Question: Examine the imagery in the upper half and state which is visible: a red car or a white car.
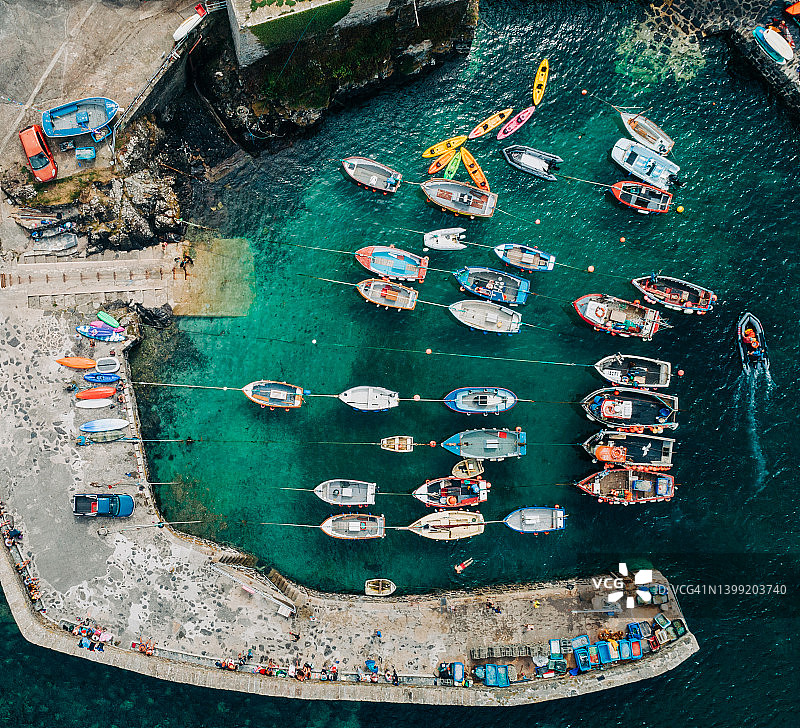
red car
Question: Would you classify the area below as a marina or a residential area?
marina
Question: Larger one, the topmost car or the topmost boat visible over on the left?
the car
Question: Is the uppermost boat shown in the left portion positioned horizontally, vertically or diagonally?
diagonally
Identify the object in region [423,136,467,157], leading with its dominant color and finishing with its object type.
yellow boat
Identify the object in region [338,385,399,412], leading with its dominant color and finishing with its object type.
white boat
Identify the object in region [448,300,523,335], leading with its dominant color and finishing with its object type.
white boat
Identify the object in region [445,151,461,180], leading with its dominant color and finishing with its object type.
green boat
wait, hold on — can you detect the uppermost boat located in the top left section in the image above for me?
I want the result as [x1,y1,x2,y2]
[173,10,203,40]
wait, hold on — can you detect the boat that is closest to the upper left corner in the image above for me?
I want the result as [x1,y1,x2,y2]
[44,99,122,141]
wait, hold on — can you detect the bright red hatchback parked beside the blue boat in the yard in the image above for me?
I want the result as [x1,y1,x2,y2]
[16,124,60,184]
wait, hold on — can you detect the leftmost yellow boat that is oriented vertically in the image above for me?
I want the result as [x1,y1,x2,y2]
[534,59,548,105]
